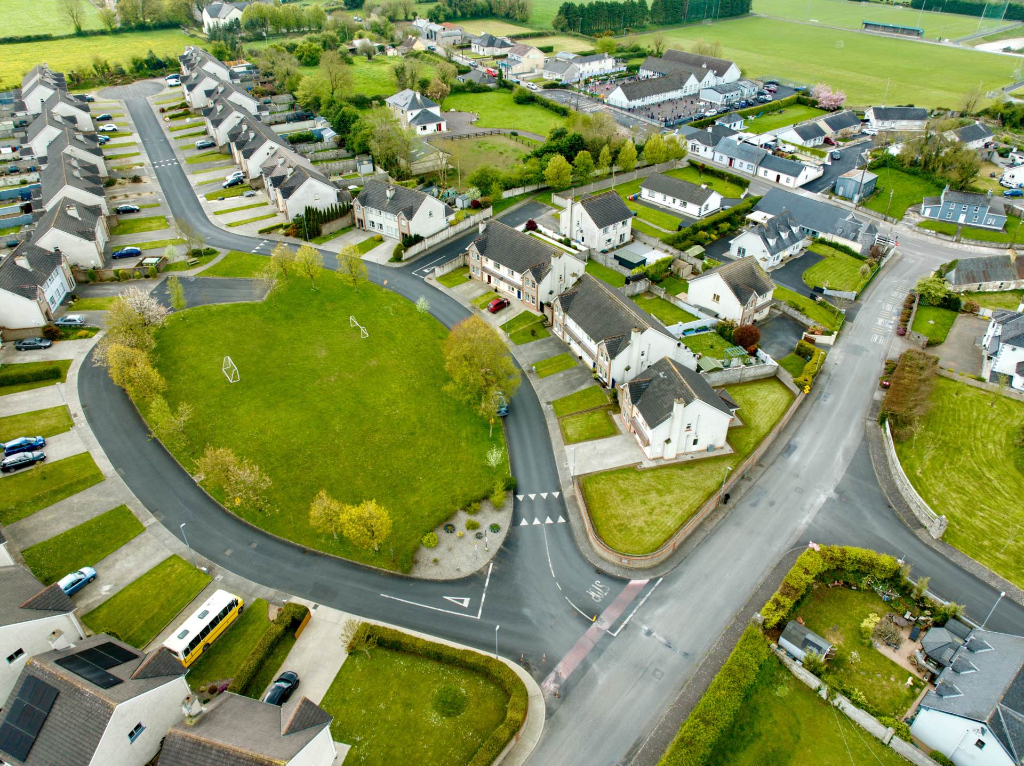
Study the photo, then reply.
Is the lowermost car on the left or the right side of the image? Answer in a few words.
left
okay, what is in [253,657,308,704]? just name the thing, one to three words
car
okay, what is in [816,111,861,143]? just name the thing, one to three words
house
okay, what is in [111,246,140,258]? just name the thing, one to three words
vehicle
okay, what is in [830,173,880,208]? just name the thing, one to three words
shed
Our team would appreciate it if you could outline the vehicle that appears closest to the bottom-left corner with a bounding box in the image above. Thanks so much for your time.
[48,561,102,596]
